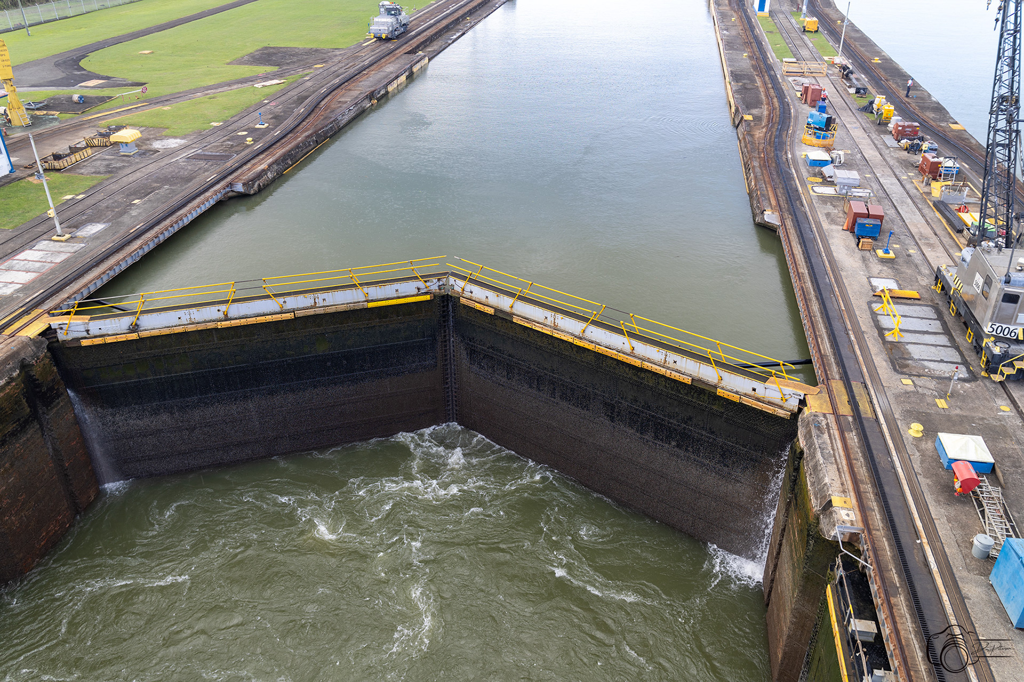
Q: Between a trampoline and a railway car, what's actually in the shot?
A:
railway car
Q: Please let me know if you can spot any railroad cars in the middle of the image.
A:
No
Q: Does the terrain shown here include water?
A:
Yes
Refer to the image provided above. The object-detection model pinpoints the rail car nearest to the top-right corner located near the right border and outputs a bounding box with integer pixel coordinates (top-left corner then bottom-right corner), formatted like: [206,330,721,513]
[936,244,1024,387]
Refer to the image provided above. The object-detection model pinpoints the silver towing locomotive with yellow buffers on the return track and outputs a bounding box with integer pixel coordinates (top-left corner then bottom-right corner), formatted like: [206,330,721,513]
[368,0,412,37]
